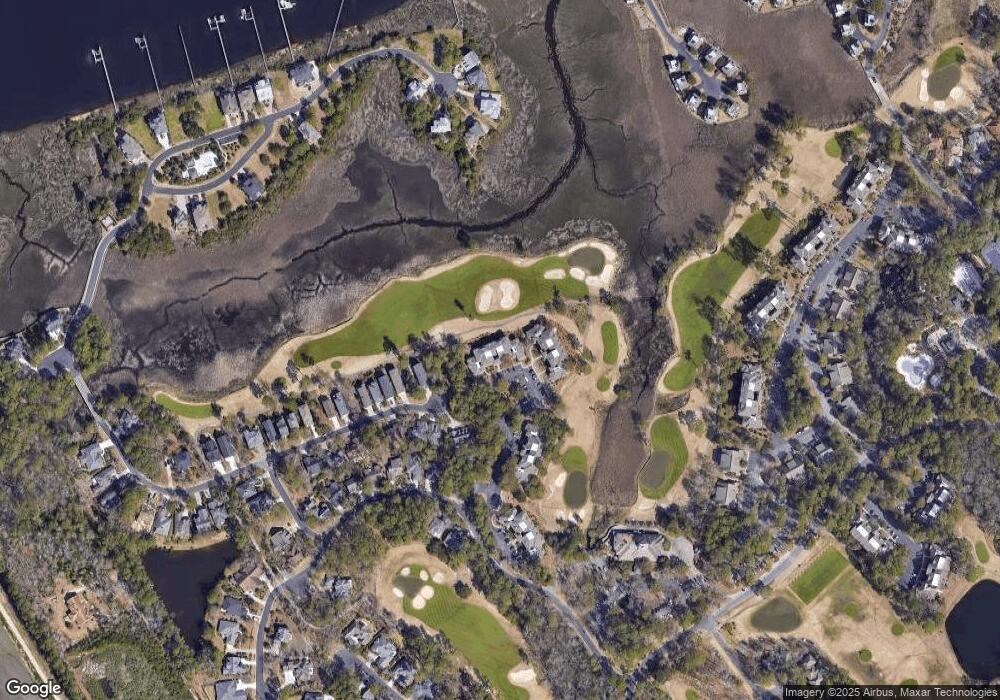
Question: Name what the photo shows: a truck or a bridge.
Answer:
bridge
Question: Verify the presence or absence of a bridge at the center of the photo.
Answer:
No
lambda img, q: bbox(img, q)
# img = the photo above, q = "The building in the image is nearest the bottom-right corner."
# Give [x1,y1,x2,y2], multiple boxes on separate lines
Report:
[918,545,953,597]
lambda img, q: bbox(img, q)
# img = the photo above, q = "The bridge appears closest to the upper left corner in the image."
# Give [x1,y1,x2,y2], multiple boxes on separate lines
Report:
[79,230,110,301]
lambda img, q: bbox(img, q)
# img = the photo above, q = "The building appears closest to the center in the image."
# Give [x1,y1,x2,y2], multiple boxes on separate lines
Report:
[468,334,526,376]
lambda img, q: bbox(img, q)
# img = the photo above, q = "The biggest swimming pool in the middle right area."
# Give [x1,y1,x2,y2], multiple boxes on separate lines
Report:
[896,355,934,390]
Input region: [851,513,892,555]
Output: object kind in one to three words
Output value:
building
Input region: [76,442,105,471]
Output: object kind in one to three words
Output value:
house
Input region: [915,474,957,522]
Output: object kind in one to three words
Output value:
building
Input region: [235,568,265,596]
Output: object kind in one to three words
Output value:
house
